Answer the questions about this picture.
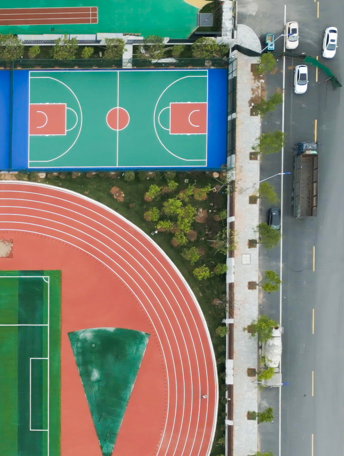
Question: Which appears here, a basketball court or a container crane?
basketball court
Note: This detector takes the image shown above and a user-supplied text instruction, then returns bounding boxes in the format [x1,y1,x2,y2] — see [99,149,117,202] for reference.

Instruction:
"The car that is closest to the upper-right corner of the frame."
[319,27,338,59]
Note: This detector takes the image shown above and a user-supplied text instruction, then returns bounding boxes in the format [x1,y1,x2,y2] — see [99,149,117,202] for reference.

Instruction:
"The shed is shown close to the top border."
[193,13,213,32]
